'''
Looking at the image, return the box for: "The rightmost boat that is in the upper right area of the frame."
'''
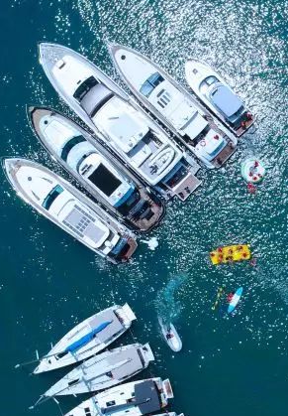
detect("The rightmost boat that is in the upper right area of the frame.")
[185,59,254,134]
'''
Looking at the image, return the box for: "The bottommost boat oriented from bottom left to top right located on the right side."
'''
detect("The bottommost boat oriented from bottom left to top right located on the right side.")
[228,288,243,313]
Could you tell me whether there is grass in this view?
No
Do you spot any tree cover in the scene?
No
